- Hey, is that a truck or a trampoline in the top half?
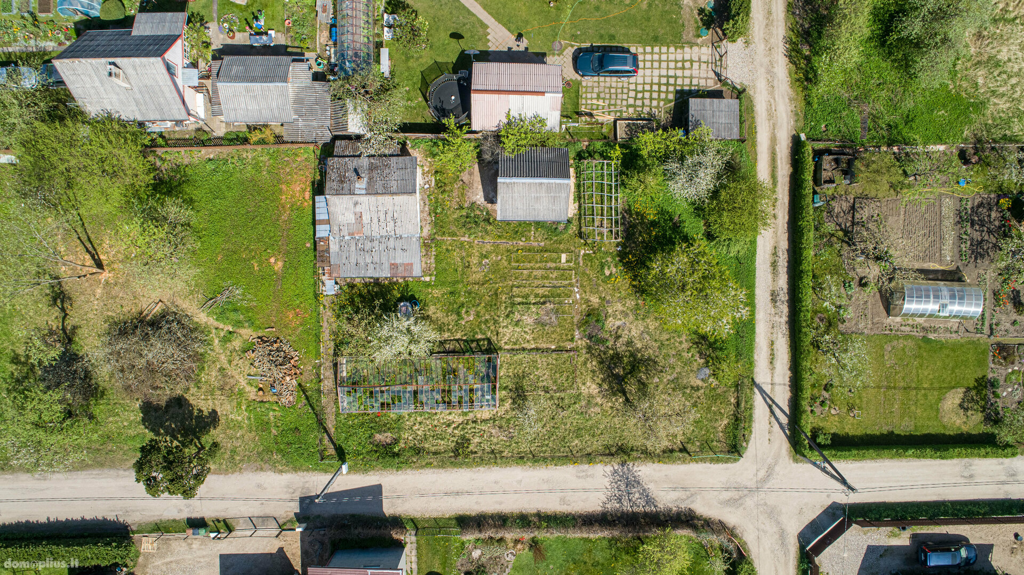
trampoline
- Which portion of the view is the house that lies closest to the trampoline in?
top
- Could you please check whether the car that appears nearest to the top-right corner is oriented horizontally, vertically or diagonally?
horizontally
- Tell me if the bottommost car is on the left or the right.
right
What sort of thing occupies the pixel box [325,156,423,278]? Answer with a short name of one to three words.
house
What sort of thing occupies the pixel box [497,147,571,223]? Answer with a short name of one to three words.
shed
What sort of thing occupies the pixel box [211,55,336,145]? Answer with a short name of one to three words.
shed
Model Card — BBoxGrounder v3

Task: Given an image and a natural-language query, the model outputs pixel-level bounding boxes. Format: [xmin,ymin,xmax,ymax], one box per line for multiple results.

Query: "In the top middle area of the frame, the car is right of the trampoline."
[577,46,641,79]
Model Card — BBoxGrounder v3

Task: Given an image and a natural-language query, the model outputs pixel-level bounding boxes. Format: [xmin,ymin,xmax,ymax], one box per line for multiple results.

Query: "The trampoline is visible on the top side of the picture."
[424,65,471,119]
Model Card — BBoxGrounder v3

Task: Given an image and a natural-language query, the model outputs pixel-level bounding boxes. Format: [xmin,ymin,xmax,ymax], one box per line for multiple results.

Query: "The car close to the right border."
[916,541,974,573]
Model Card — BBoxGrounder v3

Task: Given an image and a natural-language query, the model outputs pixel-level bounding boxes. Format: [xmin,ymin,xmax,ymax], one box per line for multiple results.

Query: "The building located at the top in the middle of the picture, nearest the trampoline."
[471,61,563,136]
